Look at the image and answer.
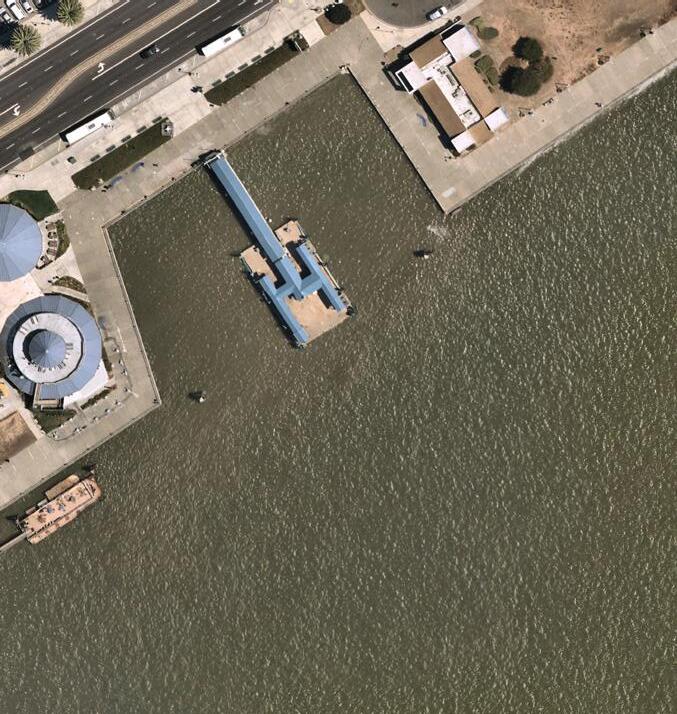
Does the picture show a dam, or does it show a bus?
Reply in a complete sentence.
This aerial view contains a bus.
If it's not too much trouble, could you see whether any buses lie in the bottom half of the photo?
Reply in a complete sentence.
No, no bus can be made out in the bottom half of the photo.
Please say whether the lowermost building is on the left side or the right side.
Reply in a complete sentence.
The lowermost building is on the left side of the image.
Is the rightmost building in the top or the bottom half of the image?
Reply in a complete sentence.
Seen from above, the rightmost building lies in the top half of the view.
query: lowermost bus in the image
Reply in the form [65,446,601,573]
[66,109,116,144]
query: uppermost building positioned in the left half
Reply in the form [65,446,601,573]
[0,203,43,281]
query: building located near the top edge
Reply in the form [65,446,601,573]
[395,20,510,153]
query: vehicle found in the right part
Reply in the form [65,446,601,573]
[427,7,446,20]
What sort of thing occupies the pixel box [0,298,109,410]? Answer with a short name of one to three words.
building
